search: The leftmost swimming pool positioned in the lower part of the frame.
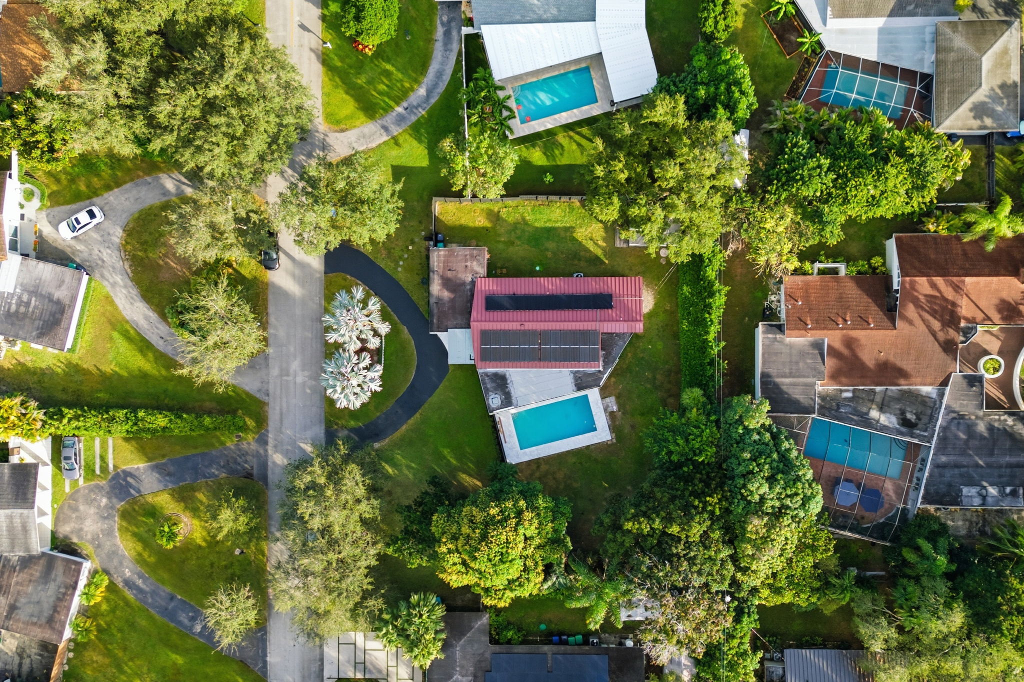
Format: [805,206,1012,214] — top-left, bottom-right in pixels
[508,391,599,453]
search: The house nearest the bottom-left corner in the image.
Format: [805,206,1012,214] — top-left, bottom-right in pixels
[0,549,102,645]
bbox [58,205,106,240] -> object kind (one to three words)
car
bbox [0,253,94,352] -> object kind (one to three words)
house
